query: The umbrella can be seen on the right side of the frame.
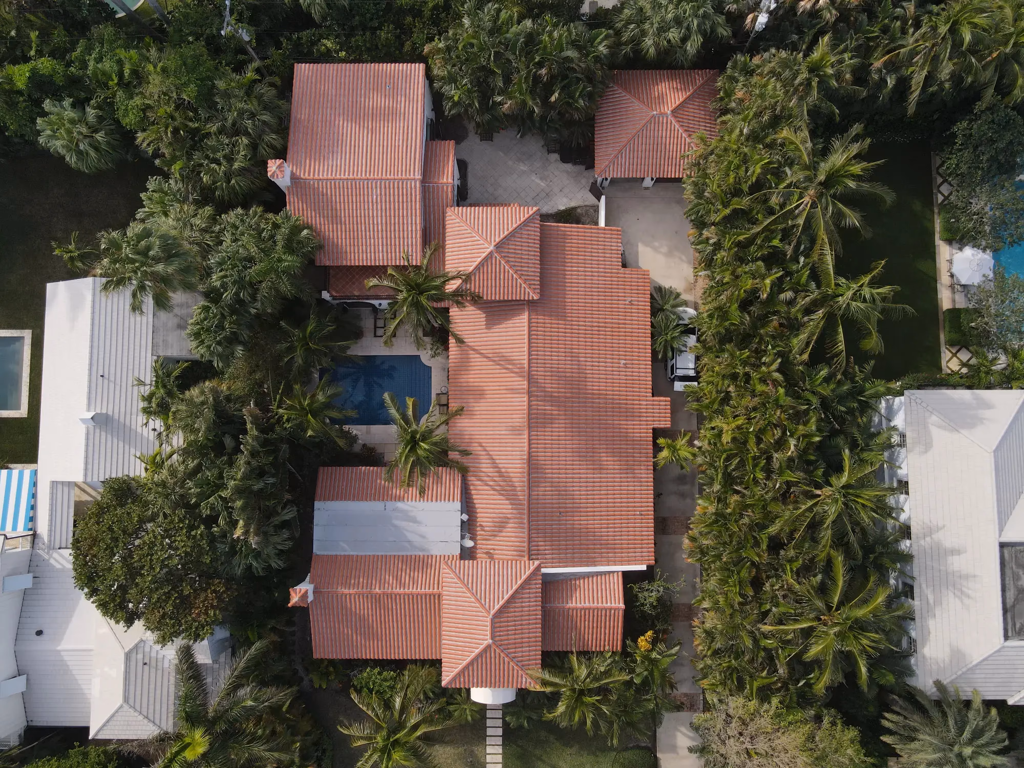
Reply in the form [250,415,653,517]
[946,245,990,288]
